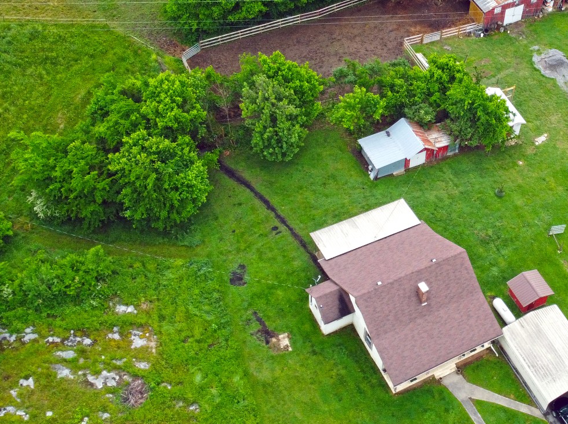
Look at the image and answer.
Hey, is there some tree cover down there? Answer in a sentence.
Yes, the picture does contain tree cover.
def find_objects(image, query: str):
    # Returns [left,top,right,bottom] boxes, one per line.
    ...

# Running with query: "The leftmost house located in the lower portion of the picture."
[305,200,504,394]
